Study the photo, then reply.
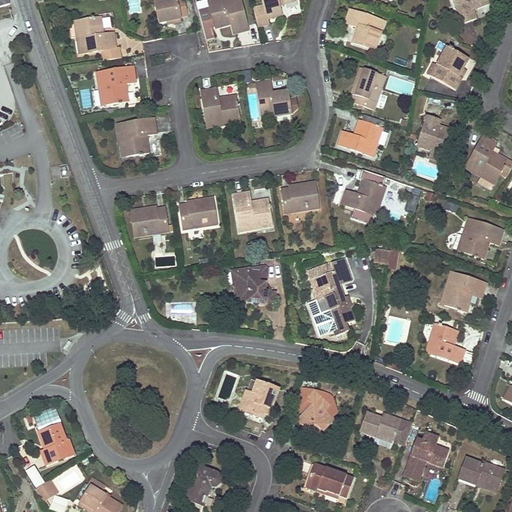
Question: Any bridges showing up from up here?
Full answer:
No, there isn't any bridge down there.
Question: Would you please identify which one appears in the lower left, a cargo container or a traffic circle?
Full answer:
There is a traffic circle in the lower left.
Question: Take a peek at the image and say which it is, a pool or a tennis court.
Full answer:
The image shows a pool.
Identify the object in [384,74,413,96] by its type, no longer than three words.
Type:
swimming pool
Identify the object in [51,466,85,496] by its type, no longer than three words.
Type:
building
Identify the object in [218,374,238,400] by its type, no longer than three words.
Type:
swimming pool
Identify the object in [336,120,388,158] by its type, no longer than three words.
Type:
house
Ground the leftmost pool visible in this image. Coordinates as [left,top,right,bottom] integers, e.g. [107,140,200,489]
[80,88,92,110]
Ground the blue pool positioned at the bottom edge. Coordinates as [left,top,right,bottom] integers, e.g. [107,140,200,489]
[424,478,442,504]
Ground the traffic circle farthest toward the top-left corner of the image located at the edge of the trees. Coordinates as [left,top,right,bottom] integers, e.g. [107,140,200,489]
[0,212,76,298]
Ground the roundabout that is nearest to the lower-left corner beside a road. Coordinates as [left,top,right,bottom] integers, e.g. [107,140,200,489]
[70,328,203,473]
